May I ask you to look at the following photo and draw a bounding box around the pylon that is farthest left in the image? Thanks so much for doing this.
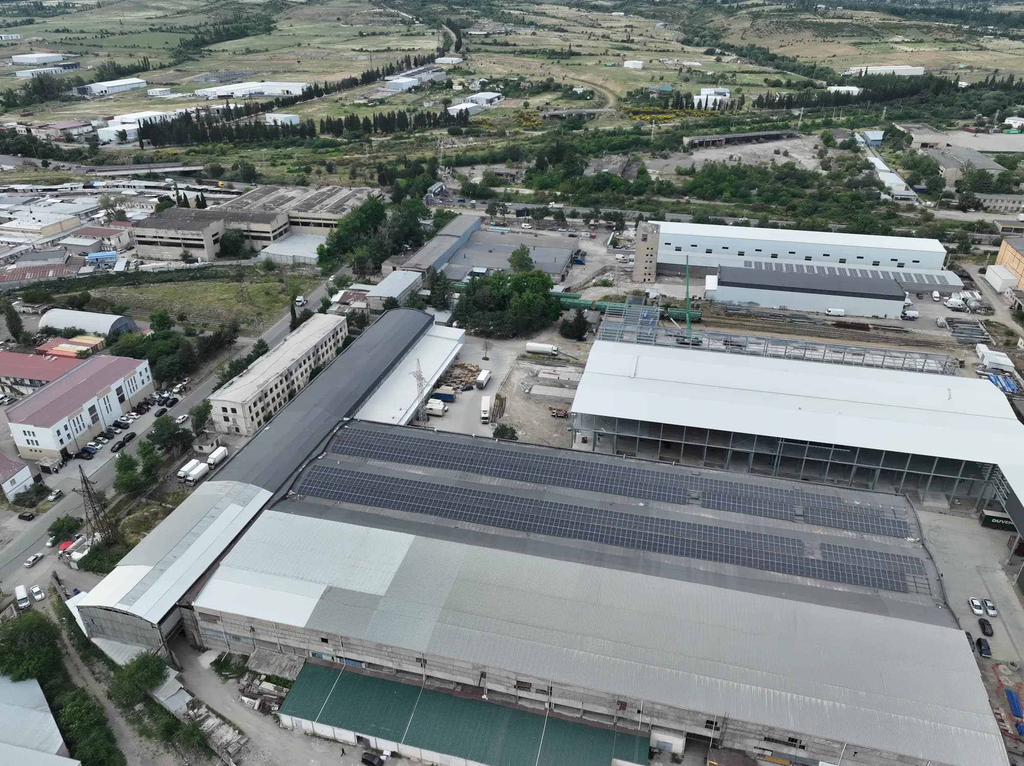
[60,460,115,545]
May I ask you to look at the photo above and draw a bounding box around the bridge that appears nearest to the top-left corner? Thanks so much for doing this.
[76,163,209,185]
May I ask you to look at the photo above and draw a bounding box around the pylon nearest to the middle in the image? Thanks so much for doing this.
[407,361,428,423]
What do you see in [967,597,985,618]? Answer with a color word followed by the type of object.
white car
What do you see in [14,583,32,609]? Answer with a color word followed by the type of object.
white vehicle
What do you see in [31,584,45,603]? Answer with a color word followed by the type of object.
white car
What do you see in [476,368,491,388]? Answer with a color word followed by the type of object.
white vehicle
